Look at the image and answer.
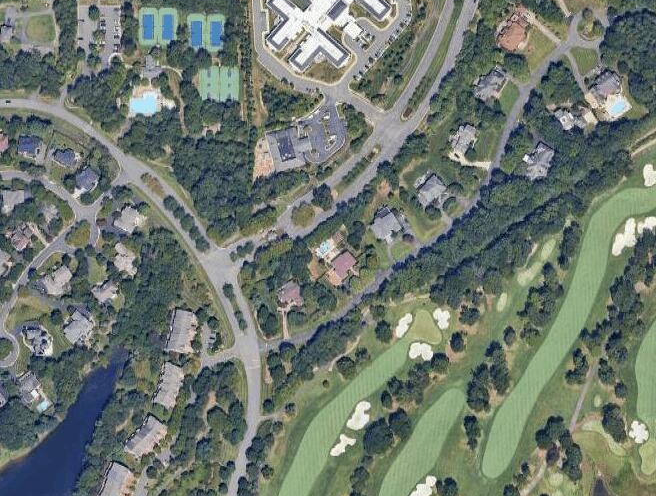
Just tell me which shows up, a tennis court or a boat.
tennis court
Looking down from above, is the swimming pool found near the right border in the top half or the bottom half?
top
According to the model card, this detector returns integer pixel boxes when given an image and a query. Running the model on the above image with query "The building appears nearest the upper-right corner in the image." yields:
[588,63,623,101]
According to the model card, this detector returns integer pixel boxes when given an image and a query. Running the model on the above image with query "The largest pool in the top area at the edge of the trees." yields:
[128,85,173,117]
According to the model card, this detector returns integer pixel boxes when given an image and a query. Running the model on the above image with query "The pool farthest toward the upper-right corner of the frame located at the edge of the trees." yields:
[601,95,631,121]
